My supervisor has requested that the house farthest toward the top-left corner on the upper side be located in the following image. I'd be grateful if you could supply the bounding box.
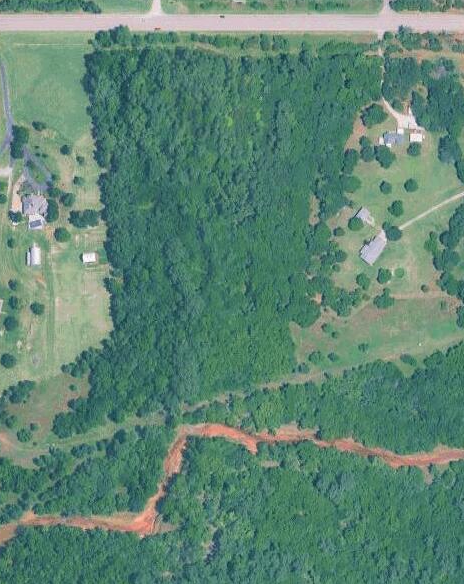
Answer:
[22,193,52,229]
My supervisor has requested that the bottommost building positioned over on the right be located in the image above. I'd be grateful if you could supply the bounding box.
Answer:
[359,233,389,264]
